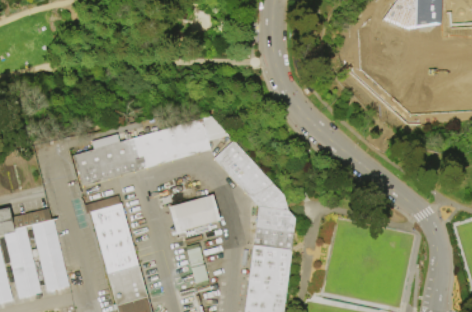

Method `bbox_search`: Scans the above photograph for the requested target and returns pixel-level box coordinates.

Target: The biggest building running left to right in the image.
[74,120,210,185]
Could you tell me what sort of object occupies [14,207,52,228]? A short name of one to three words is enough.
building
